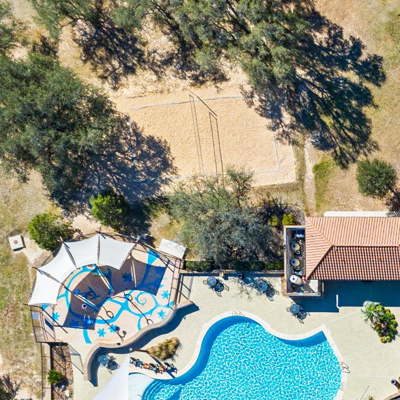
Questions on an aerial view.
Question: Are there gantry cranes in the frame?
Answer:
No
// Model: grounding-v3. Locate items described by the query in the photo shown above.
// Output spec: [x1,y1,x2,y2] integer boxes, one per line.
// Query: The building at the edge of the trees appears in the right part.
[304,217,400,284]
